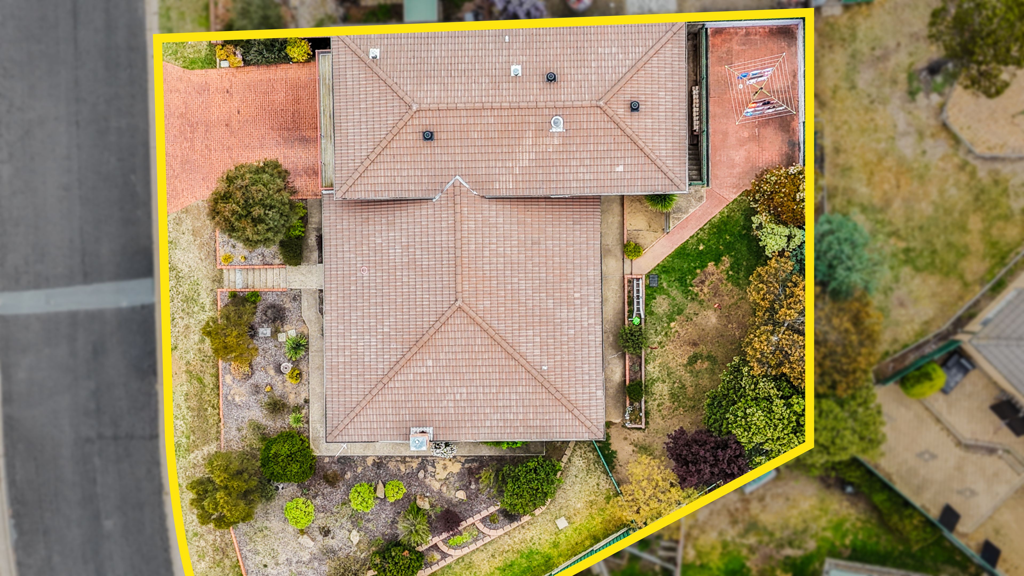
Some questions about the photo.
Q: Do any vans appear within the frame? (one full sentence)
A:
No, I can see no van in this picture.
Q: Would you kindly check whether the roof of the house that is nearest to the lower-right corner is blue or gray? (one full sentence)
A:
From above, the roof of the house that is nearest to the lower-right corner appears gray.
